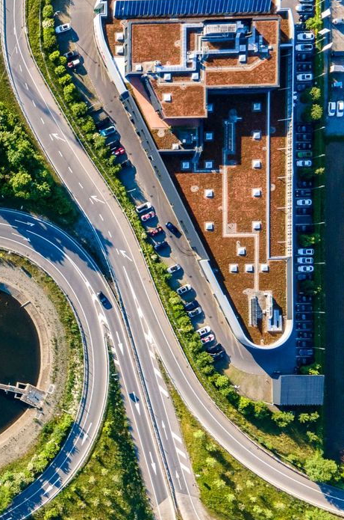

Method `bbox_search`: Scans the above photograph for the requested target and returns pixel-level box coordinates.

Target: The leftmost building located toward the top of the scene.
[91,0,295,351]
